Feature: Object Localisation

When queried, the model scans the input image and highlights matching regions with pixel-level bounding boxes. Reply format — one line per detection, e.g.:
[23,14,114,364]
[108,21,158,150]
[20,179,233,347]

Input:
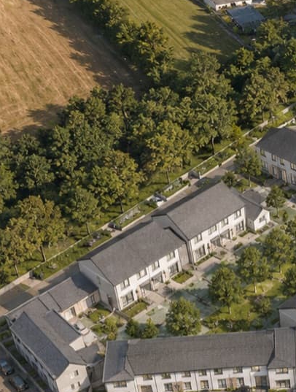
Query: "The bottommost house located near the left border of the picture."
[8,309,102,392]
